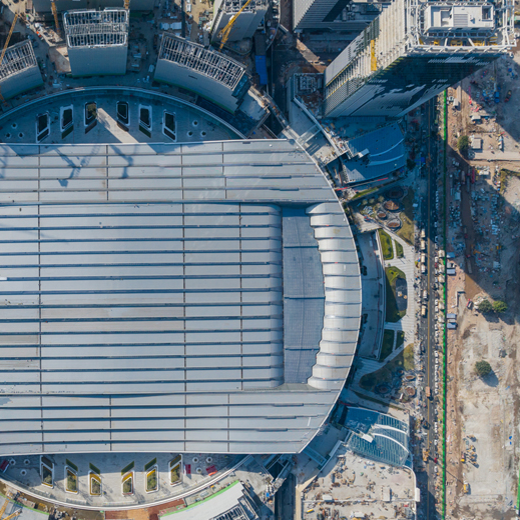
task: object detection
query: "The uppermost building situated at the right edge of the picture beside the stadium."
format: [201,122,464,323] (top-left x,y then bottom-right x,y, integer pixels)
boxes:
[325,0,520,115]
